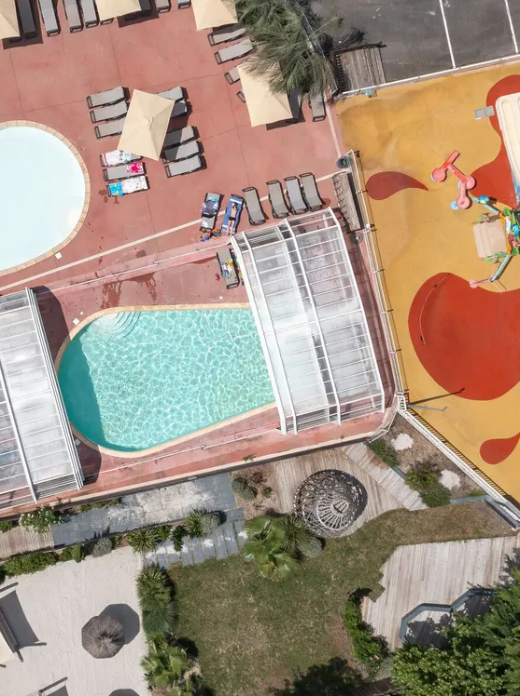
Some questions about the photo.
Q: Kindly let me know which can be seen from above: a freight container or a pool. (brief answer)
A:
pool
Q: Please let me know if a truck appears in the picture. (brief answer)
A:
No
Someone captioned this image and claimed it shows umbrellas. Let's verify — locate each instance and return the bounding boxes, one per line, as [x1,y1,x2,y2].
[191,0,238,31]
[237,57,292,128]
[82,615,127,659]
[98,0,145,22]
[0,0,21,39]
[117,88,176,161]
